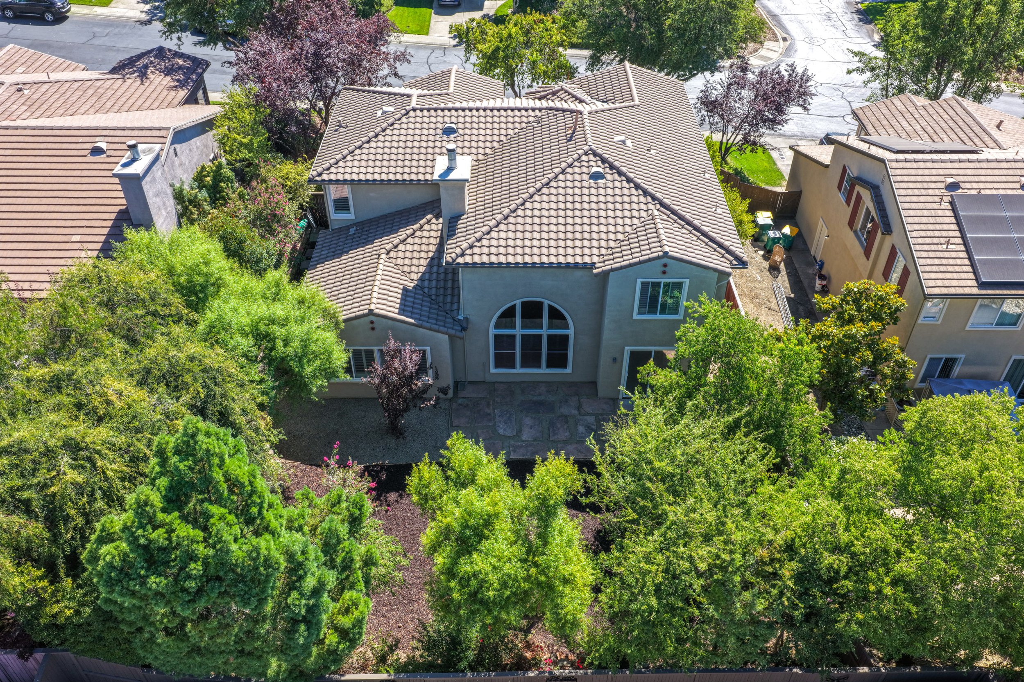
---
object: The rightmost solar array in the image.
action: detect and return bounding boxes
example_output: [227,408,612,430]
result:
[951,194,1024,287]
